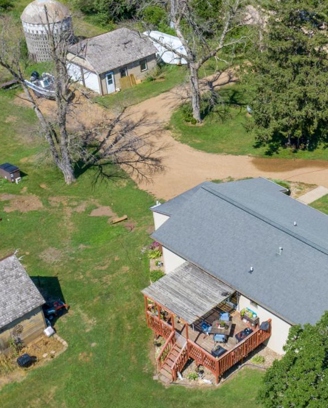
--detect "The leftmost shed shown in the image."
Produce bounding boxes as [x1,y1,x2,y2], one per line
[0,159,21,182]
